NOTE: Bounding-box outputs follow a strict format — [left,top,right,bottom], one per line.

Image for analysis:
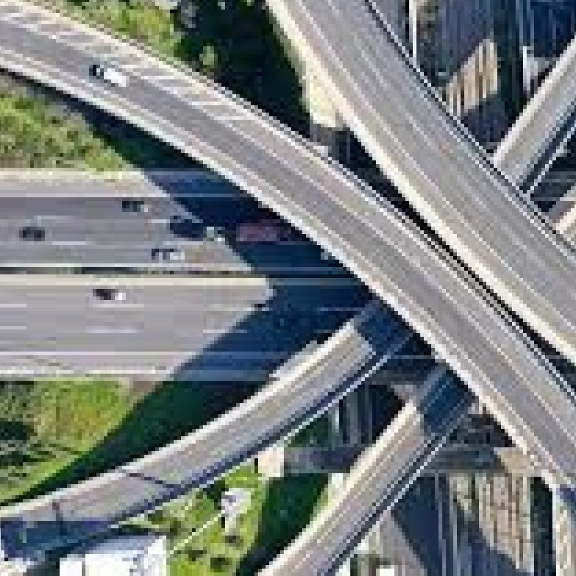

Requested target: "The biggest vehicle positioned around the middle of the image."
[210,222,300,245]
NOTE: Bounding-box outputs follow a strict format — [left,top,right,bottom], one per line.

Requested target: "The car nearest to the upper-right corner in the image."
[304,245,335,261]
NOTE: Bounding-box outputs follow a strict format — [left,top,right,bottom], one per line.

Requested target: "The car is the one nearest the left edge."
[19,224,49,241]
